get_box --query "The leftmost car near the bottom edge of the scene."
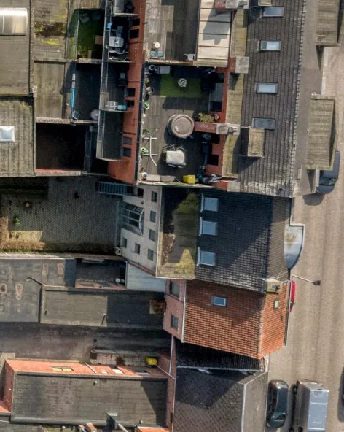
[267,377,291,429]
